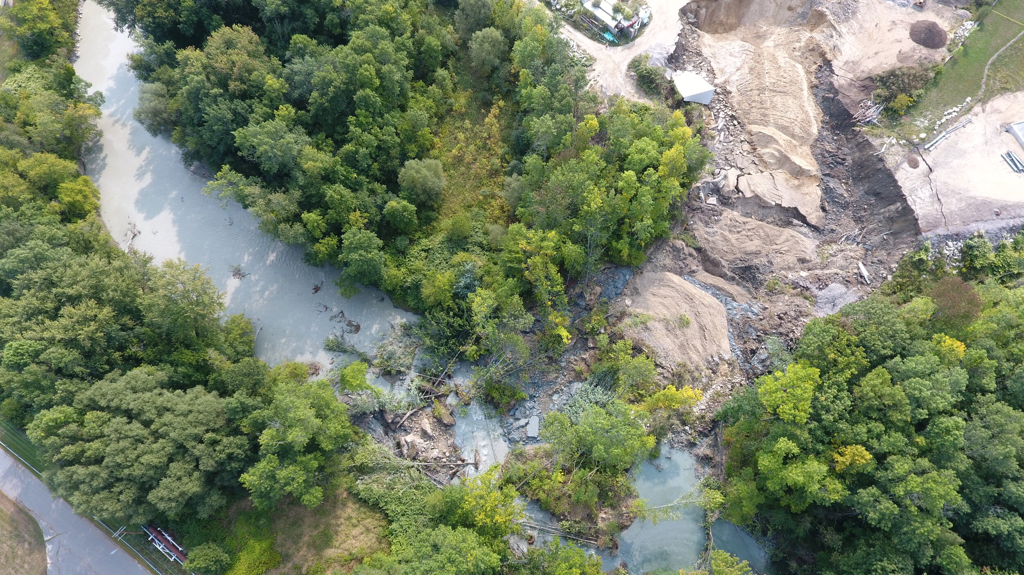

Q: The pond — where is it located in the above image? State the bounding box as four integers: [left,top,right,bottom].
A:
[614,437,776,575]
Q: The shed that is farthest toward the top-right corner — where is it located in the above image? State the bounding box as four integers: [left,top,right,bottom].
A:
[671,68,715,104]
